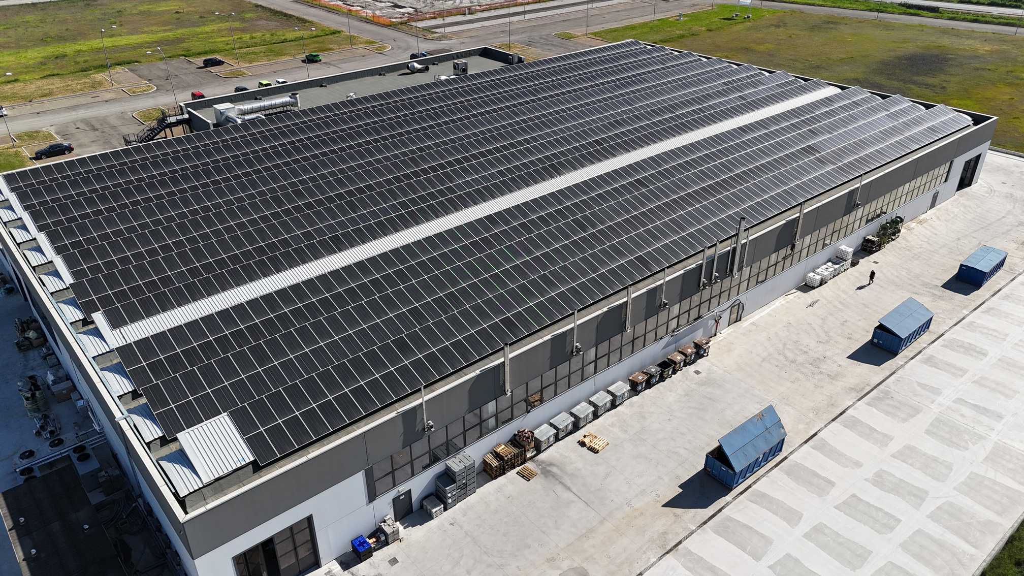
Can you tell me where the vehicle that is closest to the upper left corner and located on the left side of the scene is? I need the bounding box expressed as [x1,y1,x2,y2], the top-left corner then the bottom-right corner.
[35,144,74,160]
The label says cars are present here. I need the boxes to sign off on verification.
[35,144,74,160]
[407,52,425,59]
[234,85,250,92]
[420,50,433,56]
[274,76,289,84]
[258,80,273,88]
[204,57,229,68]
[299,52,321,62]
[191,92,207,100]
